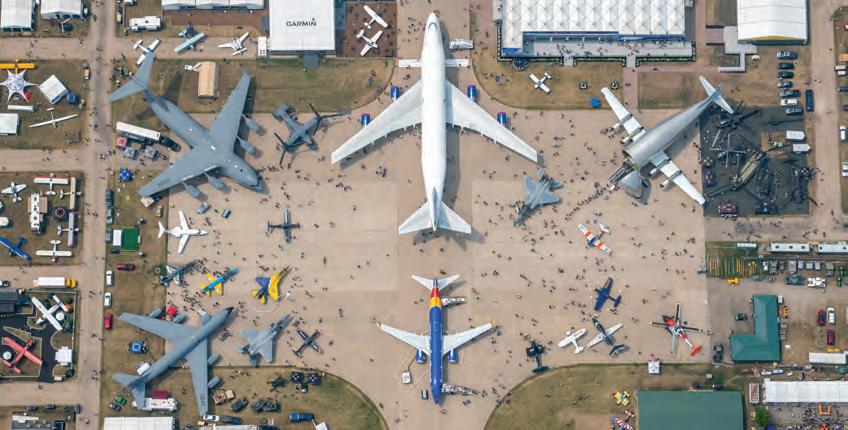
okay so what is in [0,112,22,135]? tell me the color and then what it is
white tent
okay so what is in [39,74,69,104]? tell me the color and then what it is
white tent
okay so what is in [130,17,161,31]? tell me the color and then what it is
white camper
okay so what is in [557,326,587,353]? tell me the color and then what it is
white airplane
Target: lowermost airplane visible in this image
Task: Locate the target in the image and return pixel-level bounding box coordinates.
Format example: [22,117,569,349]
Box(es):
[610,409,634,430]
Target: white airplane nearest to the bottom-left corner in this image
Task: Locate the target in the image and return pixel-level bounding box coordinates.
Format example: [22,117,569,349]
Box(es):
[32,296,67,332]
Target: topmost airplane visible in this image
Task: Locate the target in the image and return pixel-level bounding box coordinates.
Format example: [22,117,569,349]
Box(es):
[363,4,389,30]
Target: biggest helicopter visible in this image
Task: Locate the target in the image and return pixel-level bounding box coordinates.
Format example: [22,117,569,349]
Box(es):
[709,130,785,201]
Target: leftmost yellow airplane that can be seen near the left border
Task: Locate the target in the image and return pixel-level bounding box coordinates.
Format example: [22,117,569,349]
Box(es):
[0,58,34,80]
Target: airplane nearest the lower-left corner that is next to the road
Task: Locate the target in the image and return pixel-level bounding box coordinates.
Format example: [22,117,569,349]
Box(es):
[2,336,43,375]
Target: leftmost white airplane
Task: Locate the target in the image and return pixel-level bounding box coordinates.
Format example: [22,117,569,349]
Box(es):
[0,181,26,202]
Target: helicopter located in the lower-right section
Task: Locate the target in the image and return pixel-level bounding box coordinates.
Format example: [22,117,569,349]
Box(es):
[650,302,702,355]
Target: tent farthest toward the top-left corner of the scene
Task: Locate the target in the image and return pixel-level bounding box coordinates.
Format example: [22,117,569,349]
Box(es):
[1,0,36,31]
